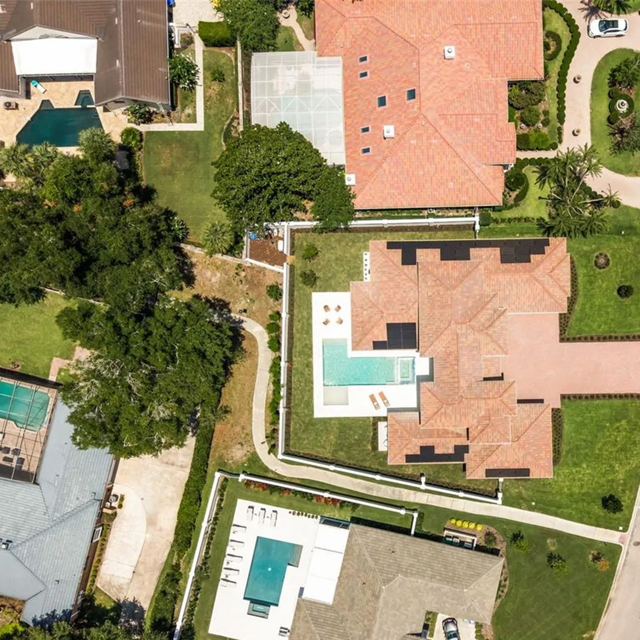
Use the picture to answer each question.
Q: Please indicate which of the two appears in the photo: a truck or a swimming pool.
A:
swimming pool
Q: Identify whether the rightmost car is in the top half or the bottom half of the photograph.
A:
top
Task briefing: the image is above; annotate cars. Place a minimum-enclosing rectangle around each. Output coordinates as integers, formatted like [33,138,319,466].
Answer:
[588,16,628,38]
[441,617,461,640]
